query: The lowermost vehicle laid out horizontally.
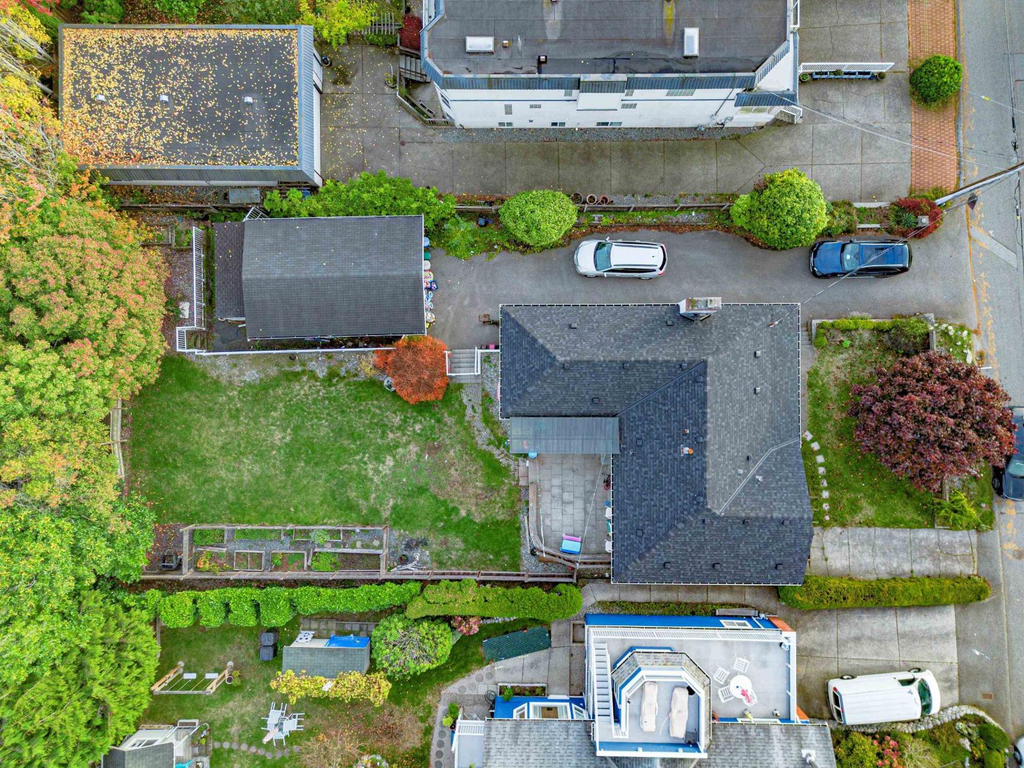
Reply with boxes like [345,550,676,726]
[822,666,939,725]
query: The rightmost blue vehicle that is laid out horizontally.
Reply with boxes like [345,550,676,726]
[805,233,914,282]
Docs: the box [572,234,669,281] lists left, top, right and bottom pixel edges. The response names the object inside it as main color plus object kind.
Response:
white car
